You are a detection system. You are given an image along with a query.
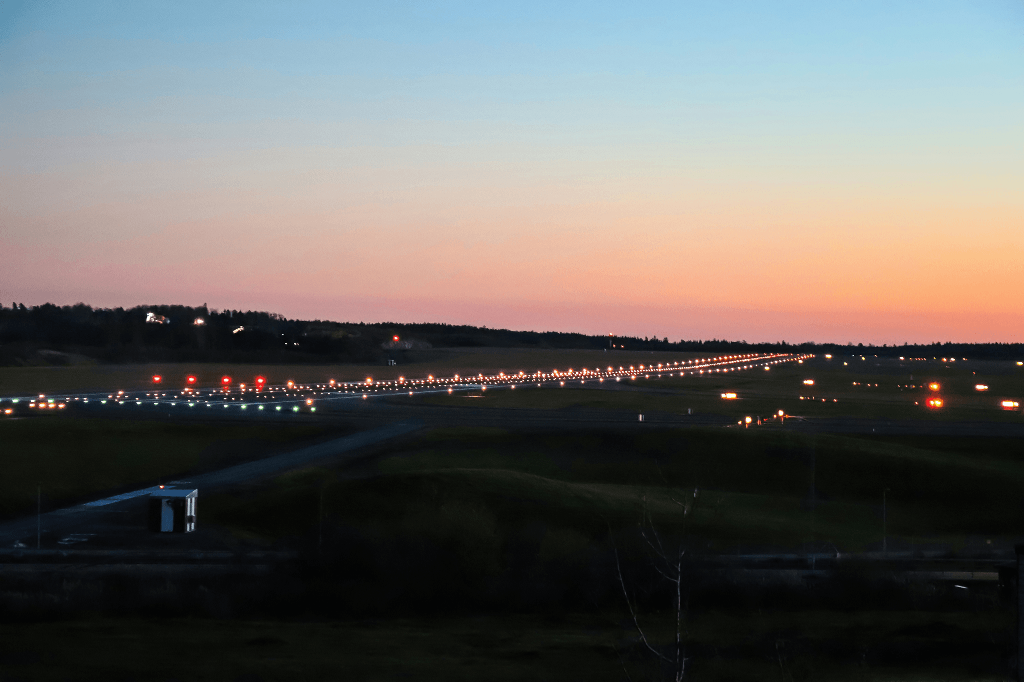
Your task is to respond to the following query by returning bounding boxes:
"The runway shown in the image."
[0,354,815,422]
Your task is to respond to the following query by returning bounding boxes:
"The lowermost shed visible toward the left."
[149,485,195,531]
